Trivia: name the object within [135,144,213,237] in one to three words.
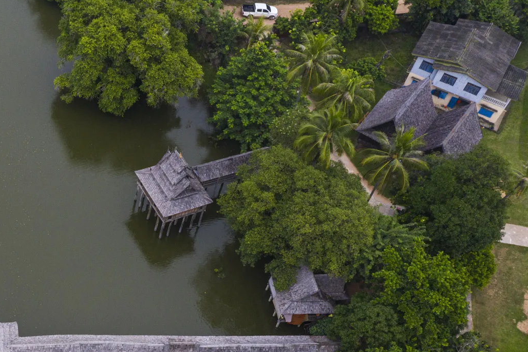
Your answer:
building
